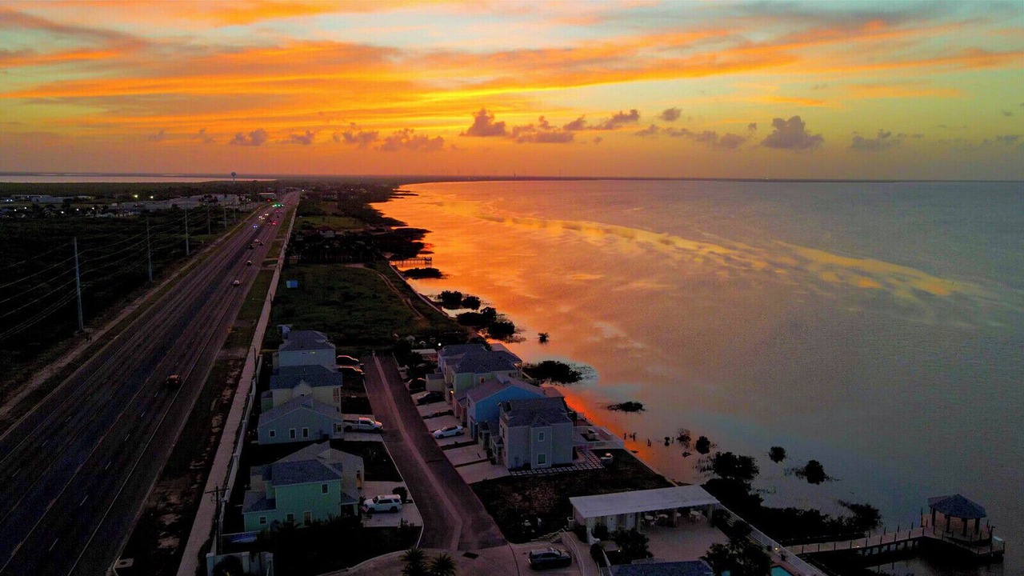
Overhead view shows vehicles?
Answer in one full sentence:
Yes, there's a vehicle here.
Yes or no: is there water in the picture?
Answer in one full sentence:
Yes, there is water in the image.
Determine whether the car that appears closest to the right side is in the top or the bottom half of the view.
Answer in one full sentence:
The car that appears closest to the right side is in the bottom half of the image.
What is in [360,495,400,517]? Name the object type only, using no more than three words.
car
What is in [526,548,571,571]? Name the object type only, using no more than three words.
car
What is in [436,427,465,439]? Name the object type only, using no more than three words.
vehicle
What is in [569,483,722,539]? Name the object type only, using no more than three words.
building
